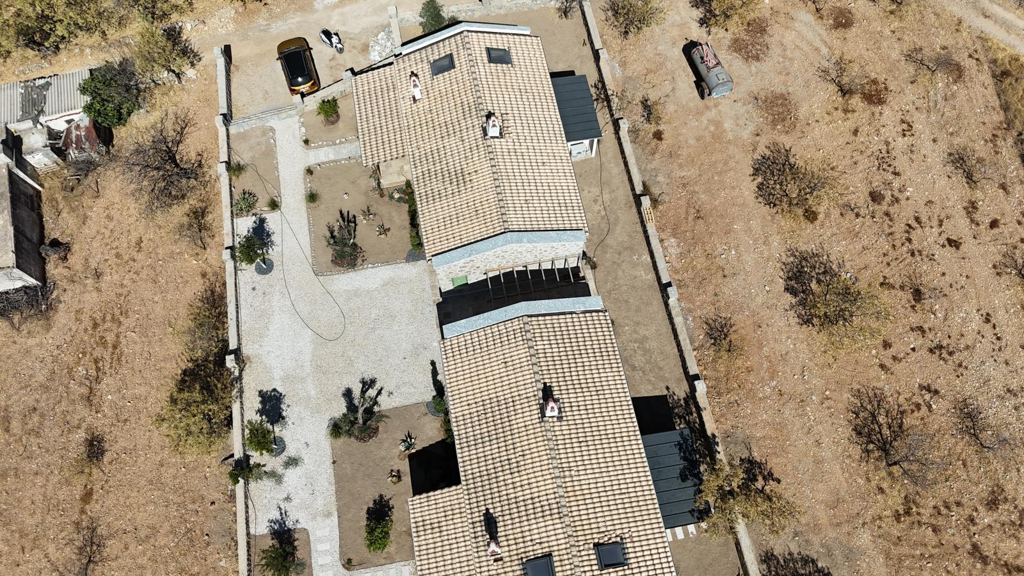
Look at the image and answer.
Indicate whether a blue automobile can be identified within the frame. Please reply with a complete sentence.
No, there is no blue automobile in the image.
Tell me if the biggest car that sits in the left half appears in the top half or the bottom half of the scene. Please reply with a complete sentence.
The biggest car that sits in the left half sits in the top half of the picture.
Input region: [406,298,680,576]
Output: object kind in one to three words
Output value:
house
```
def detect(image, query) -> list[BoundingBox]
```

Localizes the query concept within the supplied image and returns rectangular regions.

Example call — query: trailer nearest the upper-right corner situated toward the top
[691,39,735,104]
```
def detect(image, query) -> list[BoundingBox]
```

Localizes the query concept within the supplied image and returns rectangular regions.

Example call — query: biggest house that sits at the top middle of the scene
[351,20,590,292]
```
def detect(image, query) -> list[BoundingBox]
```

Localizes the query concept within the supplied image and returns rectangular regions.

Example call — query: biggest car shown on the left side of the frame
[280,39,322,99]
